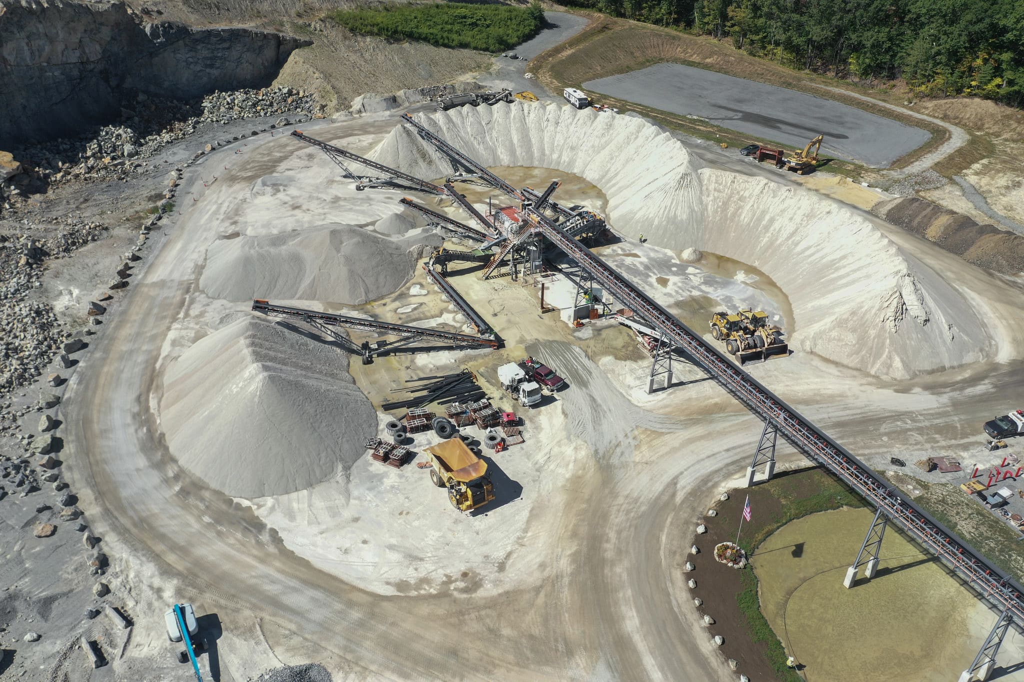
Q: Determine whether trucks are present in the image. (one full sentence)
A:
Yes, the frame does contain a truck.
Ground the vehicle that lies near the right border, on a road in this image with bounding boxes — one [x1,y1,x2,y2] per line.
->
[985,411,1024,440]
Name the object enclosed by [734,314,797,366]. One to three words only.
work vehicle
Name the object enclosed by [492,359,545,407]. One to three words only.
truck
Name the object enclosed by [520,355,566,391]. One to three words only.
truck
